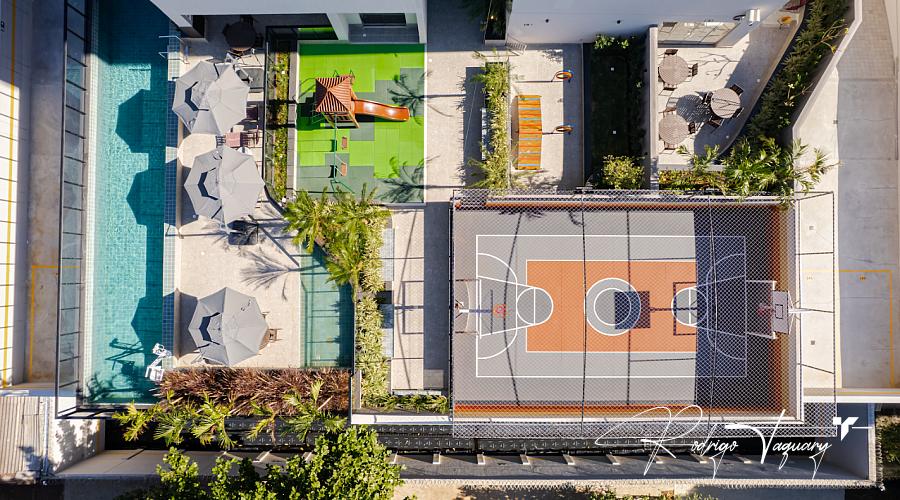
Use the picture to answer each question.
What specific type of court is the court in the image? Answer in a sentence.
I'd identify the court as a basketball court.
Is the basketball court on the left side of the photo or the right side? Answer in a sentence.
The basketball court appears in the right half of the scene.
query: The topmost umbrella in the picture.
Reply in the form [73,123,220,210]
[173,59,252,134]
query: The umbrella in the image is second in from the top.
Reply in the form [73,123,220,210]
[184,146,265,228]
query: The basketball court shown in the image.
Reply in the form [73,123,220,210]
[454,208,769,404]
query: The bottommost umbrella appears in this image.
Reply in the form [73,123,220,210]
[187,286,271,368]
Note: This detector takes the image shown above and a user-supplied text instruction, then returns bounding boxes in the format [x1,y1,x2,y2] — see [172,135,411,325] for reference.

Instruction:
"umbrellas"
[184,146,265,228]
[187,286,271,368]
[173,59,252,134]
